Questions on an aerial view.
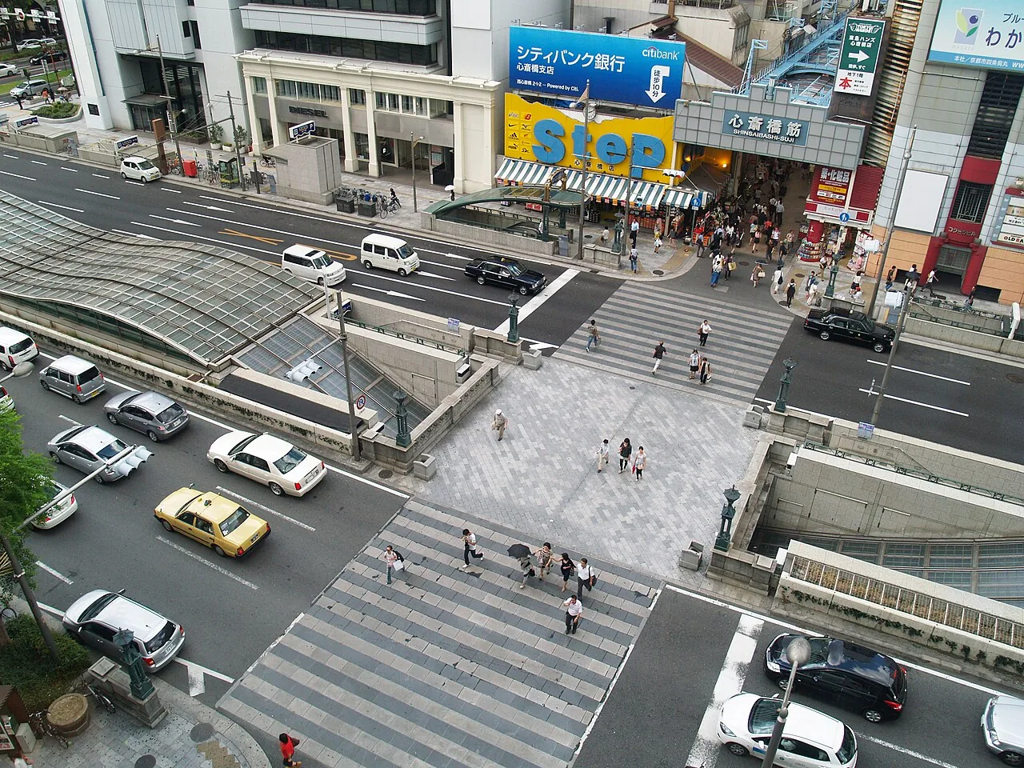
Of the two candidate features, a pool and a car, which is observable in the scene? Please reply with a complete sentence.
The image shows a car.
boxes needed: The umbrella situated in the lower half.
[494,544,528,568]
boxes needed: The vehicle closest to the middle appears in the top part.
[469,254,552,295]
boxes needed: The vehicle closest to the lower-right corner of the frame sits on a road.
[976,695,1024,765]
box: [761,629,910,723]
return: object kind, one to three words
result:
car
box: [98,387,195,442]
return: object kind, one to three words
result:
car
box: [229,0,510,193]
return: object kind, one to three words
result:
building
